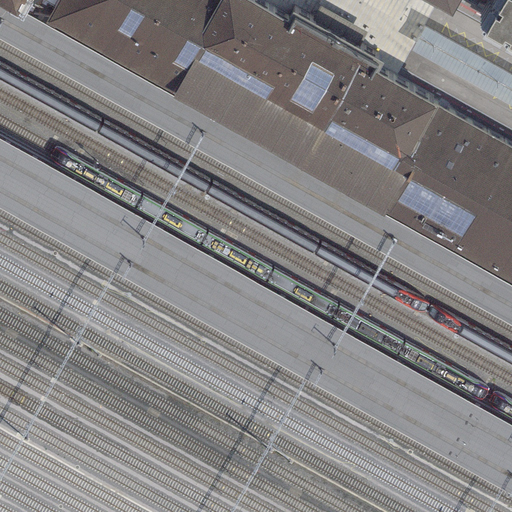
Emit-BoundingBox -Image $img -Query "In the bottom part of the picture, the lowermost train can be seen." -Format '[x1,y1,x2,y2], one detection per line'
[490,390,512,418]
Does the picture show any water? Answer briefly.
No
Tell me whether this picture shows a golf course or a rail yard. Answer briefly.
rail yard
